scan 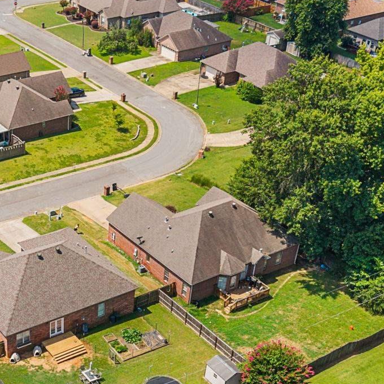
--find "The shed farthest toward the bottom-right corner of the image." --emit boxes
[203,351,246,384]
